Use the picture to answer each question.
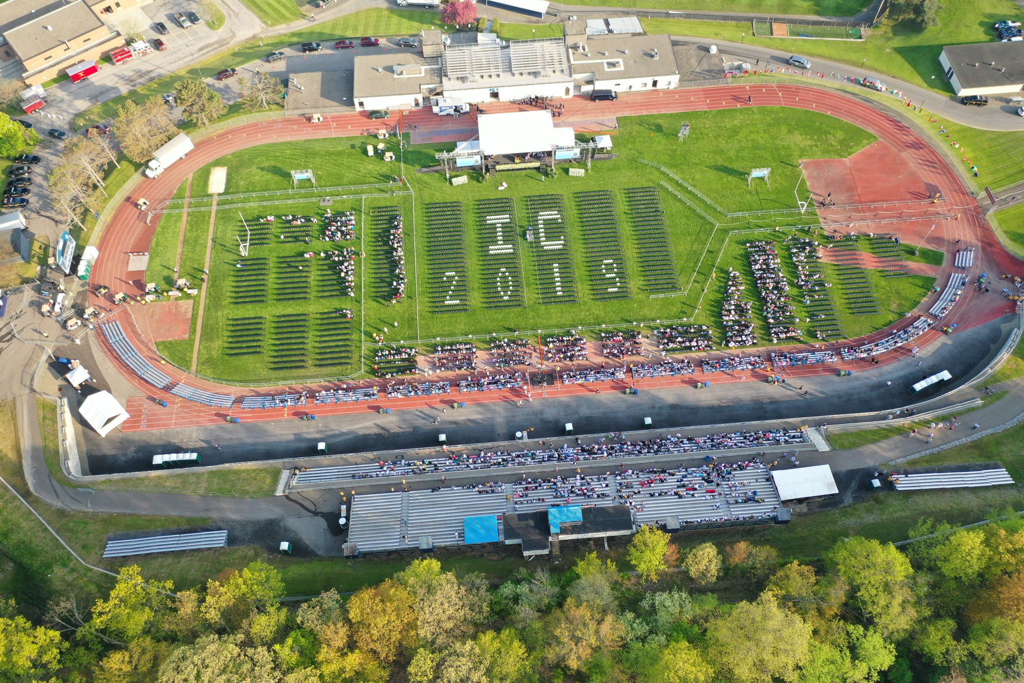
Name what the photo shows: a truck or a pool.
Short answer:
truck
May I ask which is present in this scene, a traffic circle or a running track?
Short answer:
running track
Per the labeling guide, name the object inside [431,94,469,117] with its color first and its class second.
white truck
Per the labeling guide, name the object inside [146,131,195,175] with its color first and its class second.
white truck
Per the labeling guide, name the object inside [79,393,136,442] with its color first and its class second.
white tent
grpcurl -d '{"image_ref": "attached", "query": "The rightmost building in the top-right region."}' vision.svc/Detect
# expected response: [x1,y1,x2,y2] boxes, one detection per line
[937,38,1024,99]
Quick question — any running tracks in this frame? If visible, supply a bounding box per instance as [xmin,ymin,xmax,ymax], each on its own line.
[91,83,994,420]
